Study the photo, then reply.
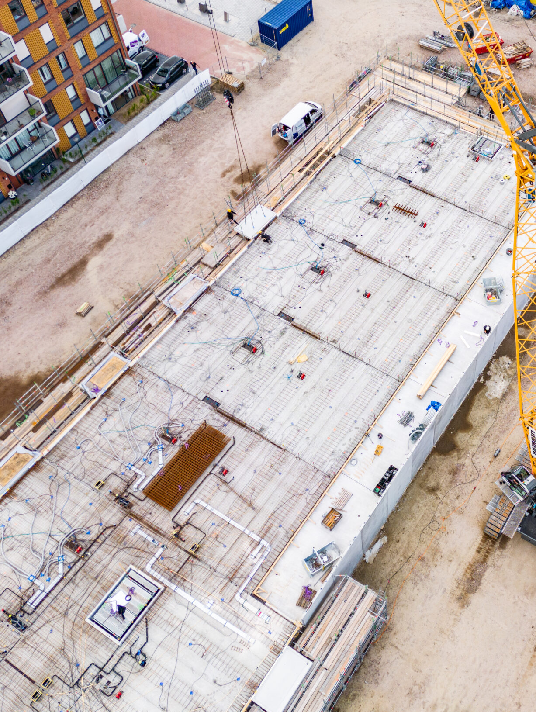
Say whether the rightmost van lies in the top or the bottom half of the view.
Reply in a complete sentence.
The top half of the photo is where the rightmost van is.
